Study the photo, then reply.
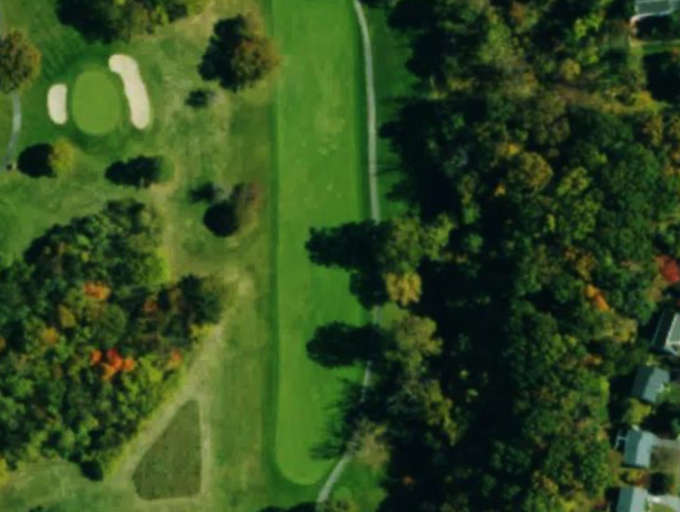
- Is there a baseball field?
No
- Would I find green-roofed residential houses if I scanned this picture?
Yes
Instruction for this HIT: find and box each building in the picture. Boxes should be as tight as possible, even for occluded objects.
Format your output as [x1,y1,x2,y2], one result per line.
[615,429,657,469]
[635,0,680,17]
[652,310,680,352]
[617,485,651,512]
[631,363,672,404]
